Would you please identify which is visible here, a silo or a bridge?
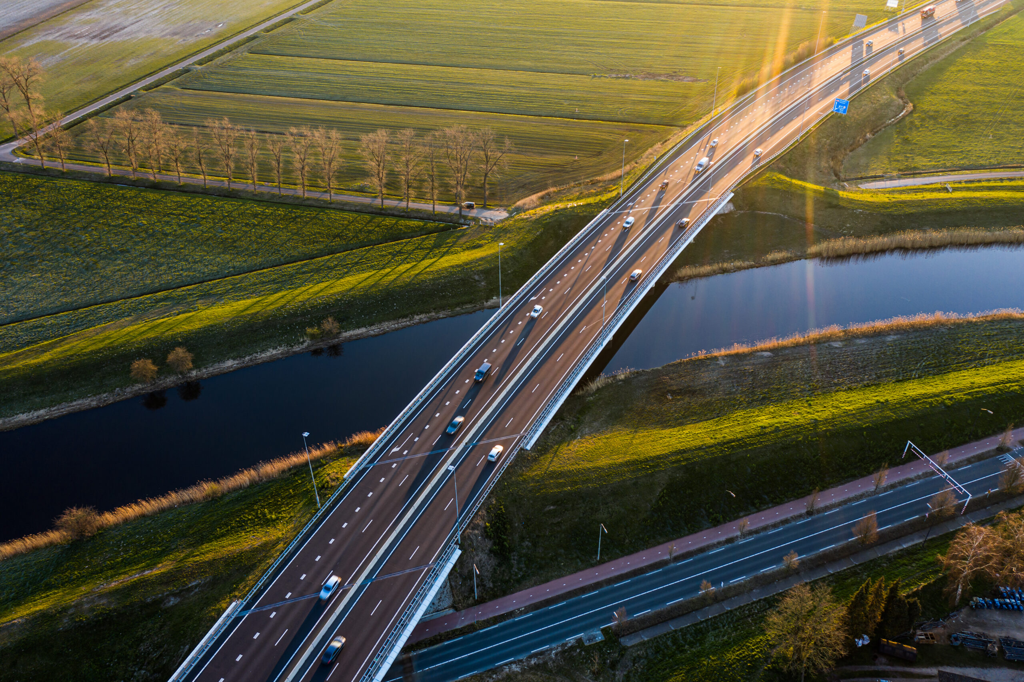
bridge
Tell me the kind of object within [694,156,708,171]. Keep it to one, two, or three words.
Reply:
vehicle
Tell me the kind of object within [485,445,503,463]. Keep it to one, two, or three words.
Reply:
car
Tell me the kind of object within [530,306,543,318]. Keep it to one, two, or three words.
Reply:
vehicle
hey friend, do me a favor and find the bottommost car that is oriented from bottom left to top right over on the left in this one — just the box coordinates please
[320,636,348,667]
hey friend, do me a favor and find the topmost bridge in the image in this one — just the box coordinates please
[350,195,730,470]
